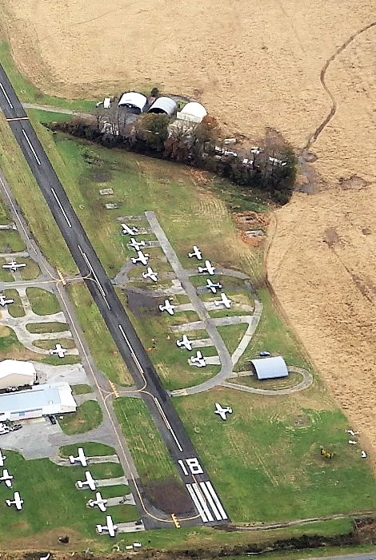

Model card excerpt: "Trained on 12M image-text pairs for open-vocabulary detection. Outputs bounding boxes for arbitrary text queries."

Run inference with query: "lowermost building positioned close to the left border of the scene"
[0,383,78,422]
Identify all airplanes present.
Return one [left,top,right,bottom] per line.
[78,472,101,492]
[6,493,28,511]
[214,404,234,419]
[199,261,217,275]
[49,344,68,357]
[132,252,150,264]
[121,224,138,236]
[158,300,176,313]
[97,516,121,537]
[142,269,159,279]
[128,237,145,249]
[214,295,232,307]
[89,492,110,510]
[0,469,17,486]
[0,448,10,466]
[188,353,206,366]
[2,259,26,272]
[71,450,92,468]
[205,279,223,291]
[188,248,204,259]
[175,336,193,349]
[0,295,14,306]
